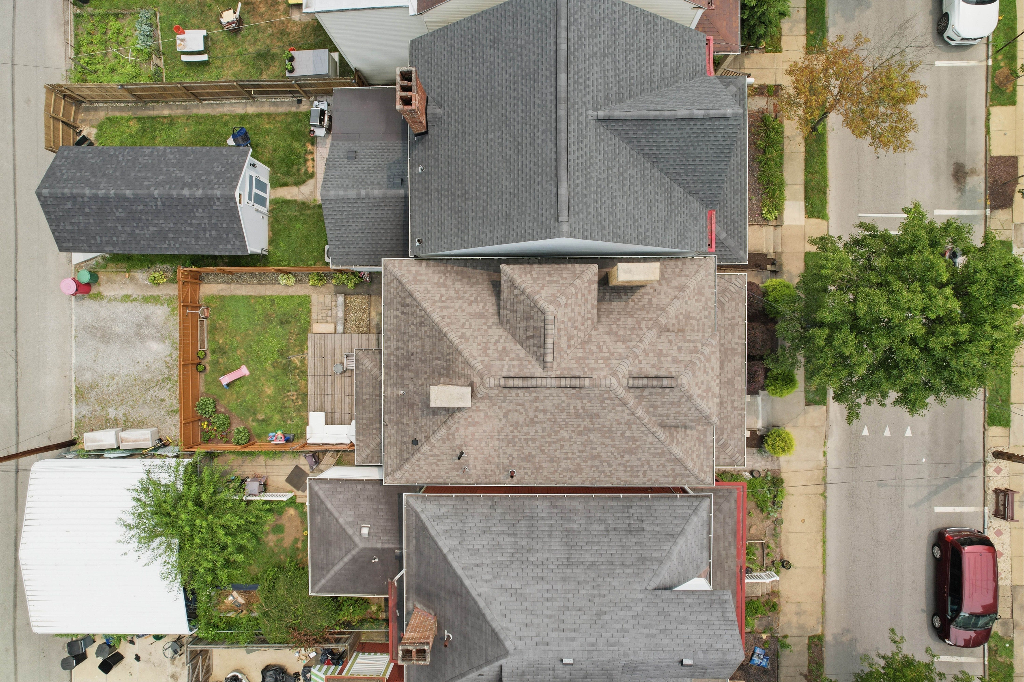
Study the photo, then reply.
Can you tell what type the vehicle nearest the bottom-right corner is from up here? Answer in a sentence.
From above, the vehicle nearest the bottom-right corner can be identified as a car.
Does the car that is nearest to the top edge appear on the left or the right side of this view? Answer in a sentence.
The car that is nearest to the top edge sits on the right side.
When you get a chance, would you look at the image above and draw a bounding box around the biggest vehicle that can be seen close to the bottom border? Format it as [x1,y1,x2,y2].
[927,526,996,648]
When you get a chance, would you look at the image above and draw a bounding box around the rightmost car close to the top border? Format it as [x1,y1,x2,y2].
[932,0,997,49]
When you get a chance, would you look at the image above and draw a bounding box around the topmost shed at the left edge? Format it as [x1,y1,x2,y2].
[36,145,278,256]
